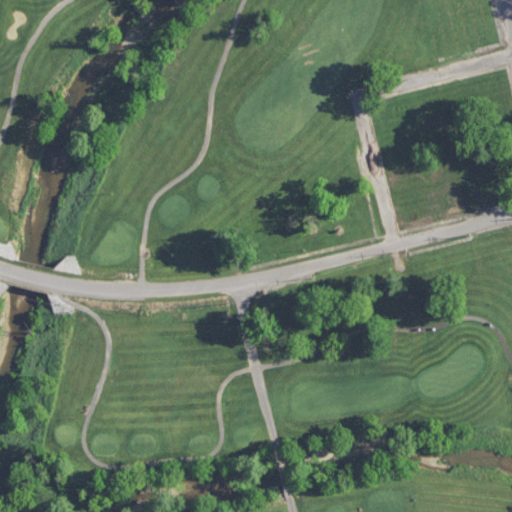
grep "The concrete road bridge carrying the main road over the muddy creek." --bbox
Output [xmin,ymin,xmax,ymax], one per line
[0,241,84,315]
